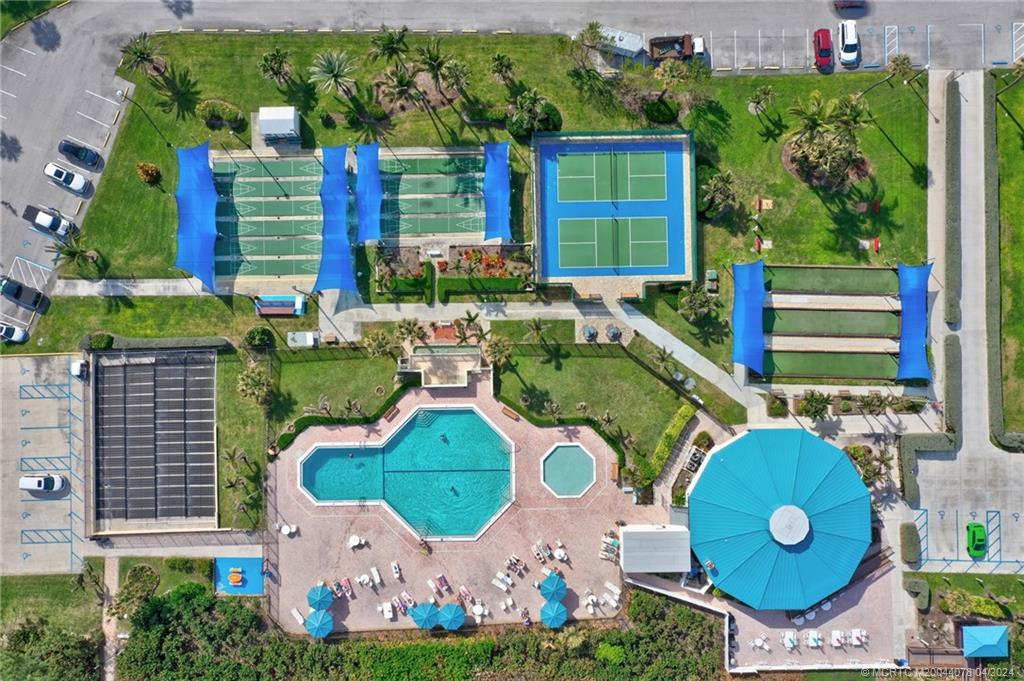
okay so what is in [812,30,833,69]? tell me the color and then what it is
red car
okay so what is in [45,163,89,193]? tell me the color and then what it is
white car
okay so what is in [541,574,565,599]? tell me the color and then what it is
blue umbrella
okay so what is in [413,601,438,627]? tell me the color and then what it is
blue umbrella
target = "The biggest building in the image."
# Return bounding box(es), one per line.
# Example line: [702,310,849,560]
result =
[685,428,872,612]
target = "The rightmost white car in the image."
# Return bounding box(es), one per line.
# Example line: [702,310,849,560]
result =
[837,23,859,66]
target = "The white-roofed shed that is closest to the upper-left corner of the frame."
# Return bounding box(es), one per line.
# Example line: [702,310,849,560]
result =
[259,107,302,147]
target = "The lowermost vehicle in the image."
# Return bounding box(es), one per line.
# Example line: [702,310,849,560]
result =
[965,521,987,557]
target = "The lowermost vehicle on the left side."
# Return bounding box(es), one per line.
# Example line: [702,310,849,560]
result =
[18,473,66,493]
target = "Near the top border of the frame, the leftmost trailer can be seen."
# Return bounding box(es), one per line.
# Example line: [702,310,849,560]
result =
[600,25,644,57]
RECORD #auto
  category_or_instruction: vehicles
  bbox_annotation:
[23,202,75,237]
[812,30,833,69]
[0,277,43,309]
[837,23,859,66]
[67,362,90,374]
[18,473,66,493]
[0,319,30,346]
[965,521,987,557]
[45,163,89,193]
[60,140,102,169]
[643,35,708,61]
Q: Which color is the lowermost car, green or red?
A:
green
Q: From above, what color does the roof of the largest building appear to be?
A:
blue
